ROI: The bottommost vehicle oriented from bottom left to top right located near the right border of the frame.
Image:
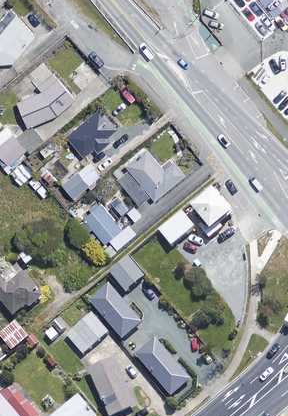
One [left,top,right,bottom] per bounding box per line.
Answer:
[259,367,274,382]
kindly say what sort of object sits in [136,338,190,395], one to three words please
house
